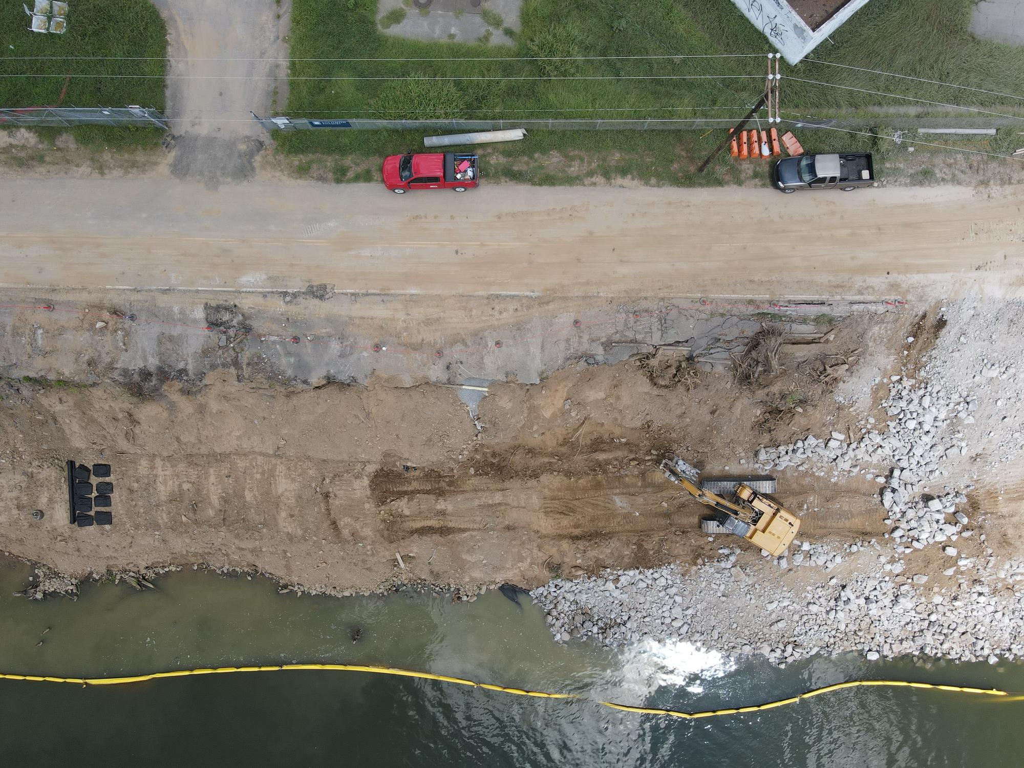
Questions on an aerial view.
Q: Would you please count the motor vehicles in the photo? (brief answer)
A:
three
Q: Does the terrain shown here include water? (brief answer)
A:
Yes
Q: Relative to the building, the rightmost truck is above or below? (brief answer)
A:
below it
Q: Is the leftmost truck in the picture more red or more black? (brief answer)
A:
red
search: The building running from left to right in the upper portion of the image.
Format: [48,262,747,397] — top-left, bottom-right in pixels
[733,0,862,62]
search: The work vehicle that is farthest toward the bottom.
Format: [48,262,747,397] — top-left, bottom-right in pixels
[659,452,800,556]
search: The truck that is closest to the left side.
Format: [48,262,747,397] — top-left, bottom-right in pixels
[382,150,483,194]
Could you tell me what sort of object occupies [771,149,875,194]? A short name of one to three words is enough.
truck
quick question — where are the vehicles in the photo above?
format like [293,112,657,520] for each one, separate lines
[659,452,800,556]
[771,149,875,194]
[382,150,483,194]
